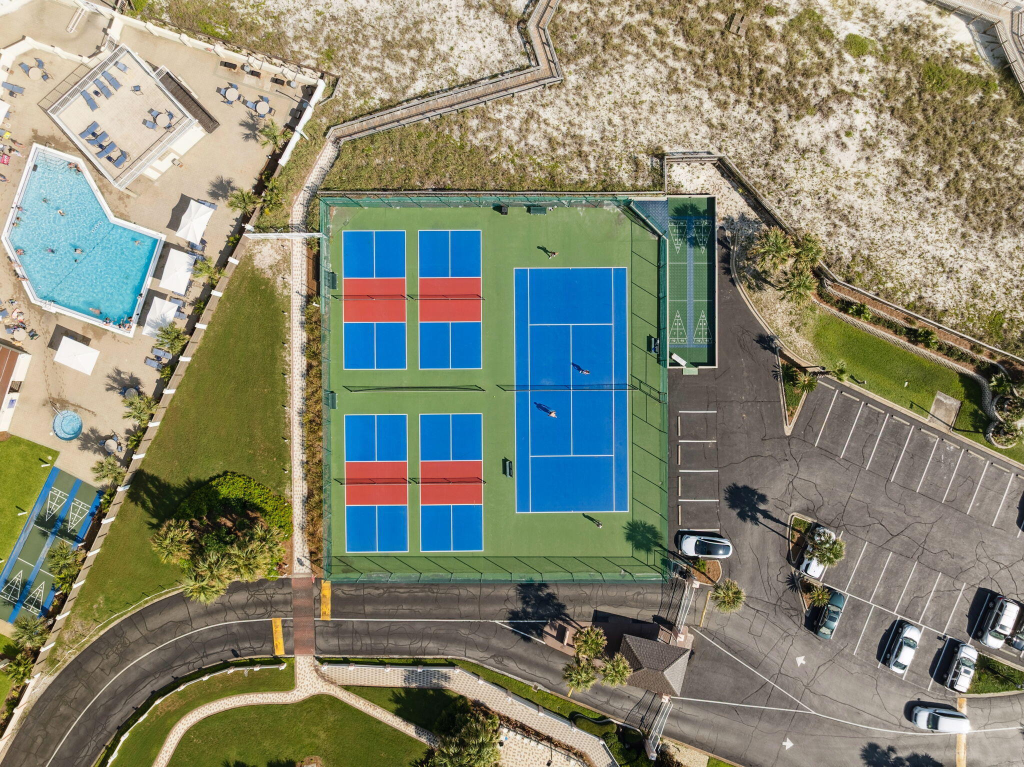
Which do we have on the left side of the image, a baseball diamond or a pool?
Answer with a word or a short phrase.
pool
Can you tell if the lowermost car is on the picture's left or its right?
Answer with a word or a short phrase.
right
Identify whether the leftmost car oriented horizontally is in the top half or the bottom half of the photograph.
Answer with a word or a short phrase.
bottom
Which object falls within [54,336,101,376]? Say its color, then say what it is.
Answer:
white umbrella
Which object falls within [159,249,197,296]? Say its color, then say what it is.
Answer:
white umbrella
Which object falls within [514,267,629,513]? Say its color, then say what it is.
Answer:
blue tennis court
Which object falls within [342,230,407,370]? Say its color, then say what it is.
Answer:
blue sports court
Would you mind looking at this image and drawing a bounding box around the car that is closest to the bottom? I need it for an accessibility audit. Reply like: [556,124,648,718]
[911,702,969,736]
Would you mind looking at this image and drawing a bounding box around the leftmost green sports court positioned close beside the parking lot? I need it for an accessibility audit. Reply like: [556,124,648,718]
[322,200,669,578]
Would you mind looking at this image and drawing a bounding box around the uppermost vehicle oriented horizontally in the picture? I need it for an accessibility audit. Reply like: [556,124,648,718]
[680,533,731,559]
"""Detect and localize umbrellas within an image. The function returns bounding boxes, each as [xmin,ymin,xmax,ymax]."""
[142,297,179,337]
[54,336,101,376]
[159,249,197,296]
[0,102,11,129]
[176,200,215,245]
